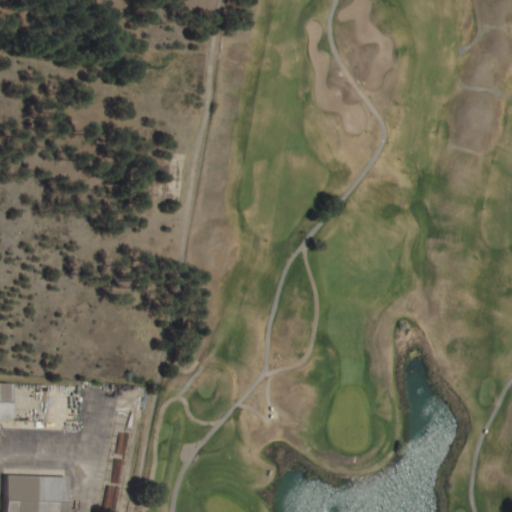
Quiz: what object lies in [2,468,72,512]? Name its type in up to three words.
building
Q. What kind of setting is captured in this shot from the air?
golf course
